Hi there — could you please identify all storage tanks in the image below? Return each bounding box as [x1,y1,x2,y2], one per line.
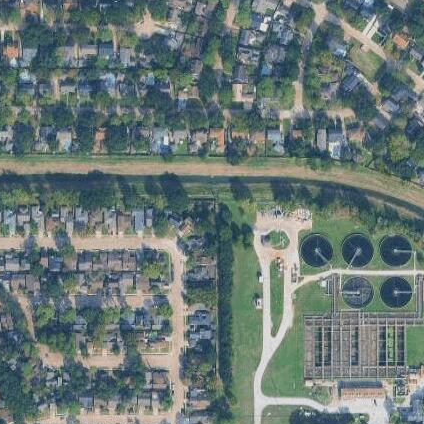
[380,276,413,308]
[380,233,413,266]
[342,233,374,266]
[341,276,374,308]
[301,233,333,266]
